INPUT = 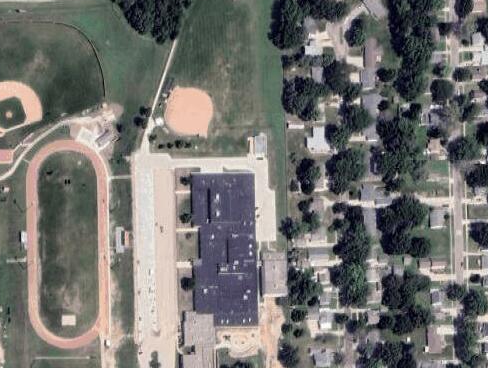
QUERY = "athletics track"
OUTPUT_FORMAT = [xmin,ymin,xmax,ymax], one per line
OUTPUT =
[26,140,111,368]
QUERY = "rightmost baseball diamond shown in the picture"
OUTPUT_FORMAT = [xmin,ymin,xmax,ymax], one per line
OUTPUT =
[166,0,261,153]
